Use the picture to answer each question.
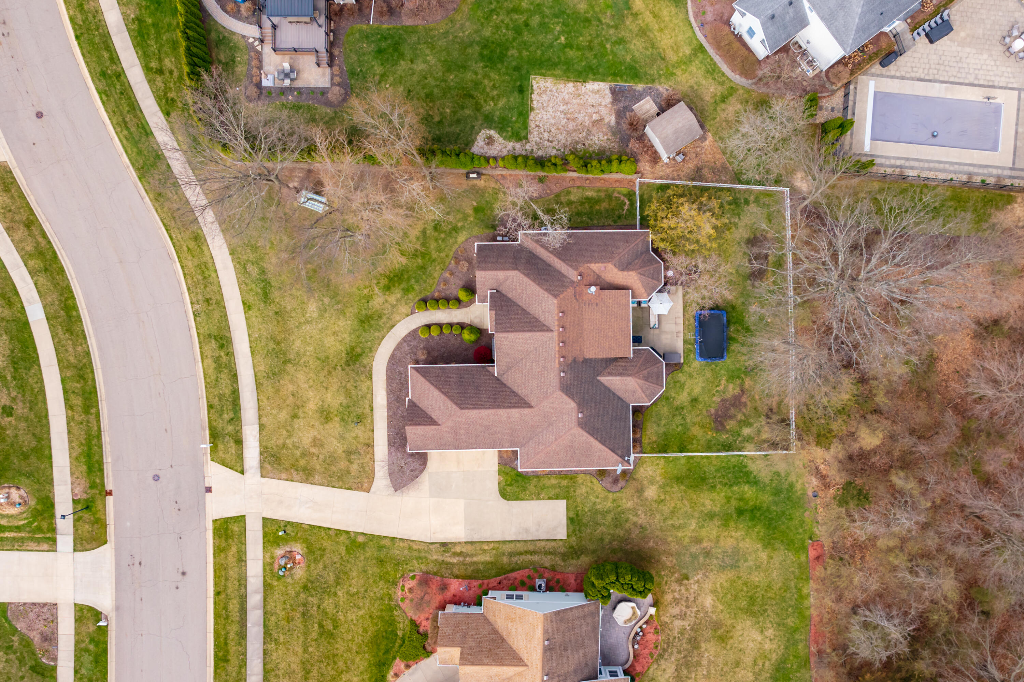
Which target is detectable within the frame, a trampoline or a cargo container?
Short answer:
trampoline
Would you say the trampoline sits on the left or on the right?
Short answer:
right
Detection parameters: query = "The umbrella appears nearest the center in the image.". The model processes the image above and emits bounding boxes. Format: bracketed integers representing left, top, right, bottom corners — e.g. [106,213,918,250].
[649,292,673,314]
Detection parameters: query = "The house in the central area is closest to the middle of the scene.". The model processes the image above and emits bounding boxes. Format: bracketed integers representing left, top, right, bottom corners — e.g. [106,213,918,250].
[405,229,666,471]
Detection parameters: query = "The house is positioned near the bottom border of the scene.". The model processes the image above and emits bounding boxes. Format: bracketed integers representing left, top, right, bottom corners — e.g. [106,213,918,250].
[437,590,631,682]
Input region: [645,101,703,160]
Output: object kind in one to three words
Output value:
shed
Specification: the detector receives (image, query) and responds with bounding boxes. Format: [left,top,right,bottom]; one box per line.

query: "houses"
[730,0,928,72]
[405,229,666,471]
[437,590,631,682]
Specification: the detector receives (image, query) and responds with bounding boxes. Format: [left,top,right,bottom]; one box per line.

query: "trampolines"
[694,310,729,361]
